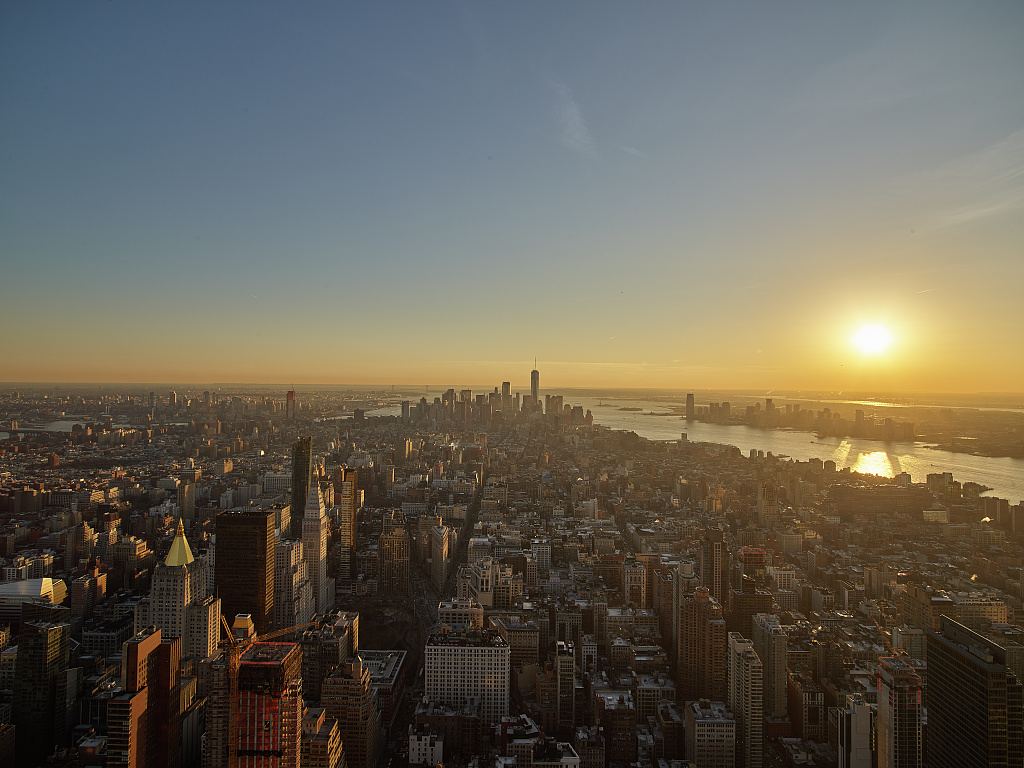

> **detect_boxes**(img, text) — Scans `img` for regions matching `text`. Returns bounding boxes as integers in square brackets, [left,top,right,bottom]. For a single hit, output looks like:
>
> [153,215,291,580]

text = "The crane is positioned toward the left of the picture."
[215,616,316,768]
